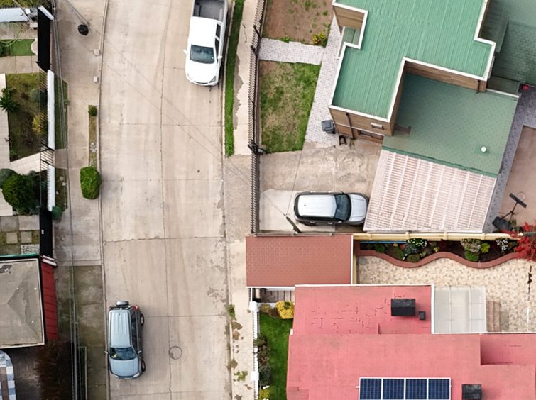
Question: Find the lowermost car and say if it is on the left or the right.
left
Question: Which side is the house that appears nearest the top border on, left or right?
right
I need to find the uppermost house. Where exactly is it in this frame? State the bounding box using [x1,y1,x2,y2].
[330,0,536,178]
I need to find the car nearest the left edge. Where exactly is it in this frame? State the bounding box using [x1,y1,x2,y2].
[102,298,144,378]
